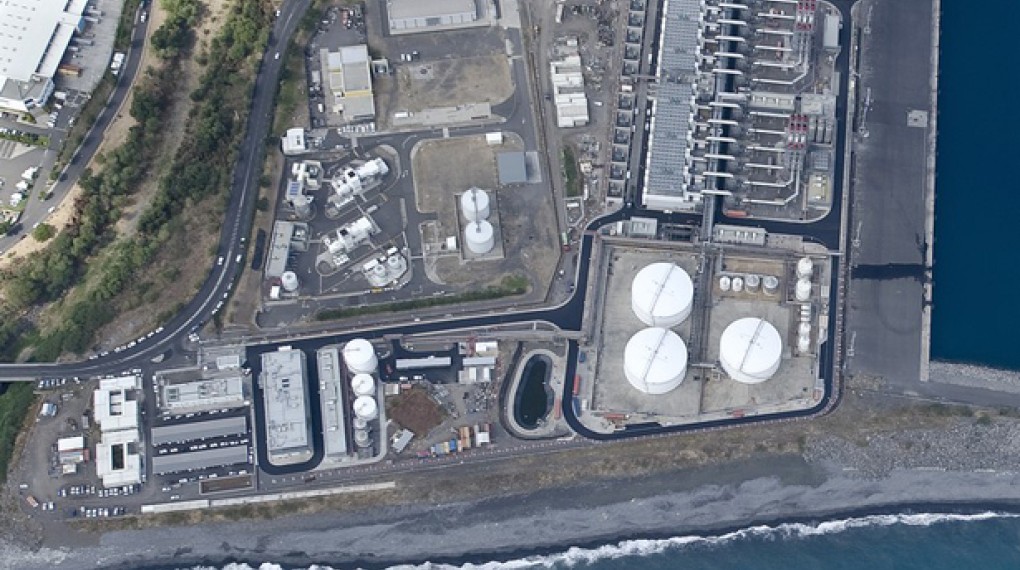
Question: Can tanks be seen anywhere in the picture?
Yes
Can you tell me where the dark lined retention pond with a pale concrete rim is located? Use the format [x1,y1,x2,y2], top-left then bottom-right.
[506,348,563,436]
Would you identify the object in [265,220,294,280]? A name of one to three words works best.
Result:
building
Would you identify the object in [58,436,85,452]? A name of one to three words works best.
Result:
shed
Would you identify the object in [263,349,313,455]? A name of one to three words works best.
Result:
building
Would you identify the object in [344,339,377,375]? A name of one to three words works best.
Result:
storage tank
